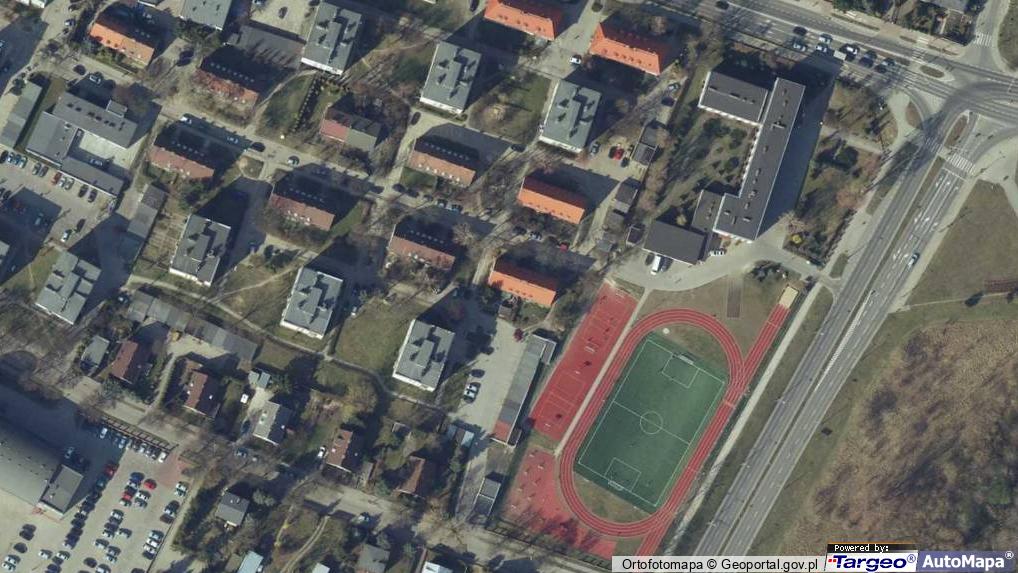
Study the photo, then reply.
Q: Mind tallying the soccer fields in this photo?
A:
1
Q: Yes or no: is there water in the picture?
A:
No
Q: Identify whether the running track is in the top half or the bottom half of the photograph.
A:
bottom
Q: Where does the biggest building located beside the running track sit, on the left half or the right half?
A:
right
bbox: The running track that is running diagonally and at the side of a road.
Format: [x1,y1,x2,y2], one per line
[559,303,788,573]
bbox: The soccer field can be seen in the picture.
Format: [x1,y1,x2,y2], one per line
[573,331,730,514]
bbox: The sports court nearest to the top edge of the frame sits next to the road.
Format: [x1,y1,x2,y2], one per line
[532,282,638,440]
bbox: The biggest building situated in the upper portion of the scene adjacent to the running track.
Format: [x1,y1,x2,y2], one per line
[713,78,805,245]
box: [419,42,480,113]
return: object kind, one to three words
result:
building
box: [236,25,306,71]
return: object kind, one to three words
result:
building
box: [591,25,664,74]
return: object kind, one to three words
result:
house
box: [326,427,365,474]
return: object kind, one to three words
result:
house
